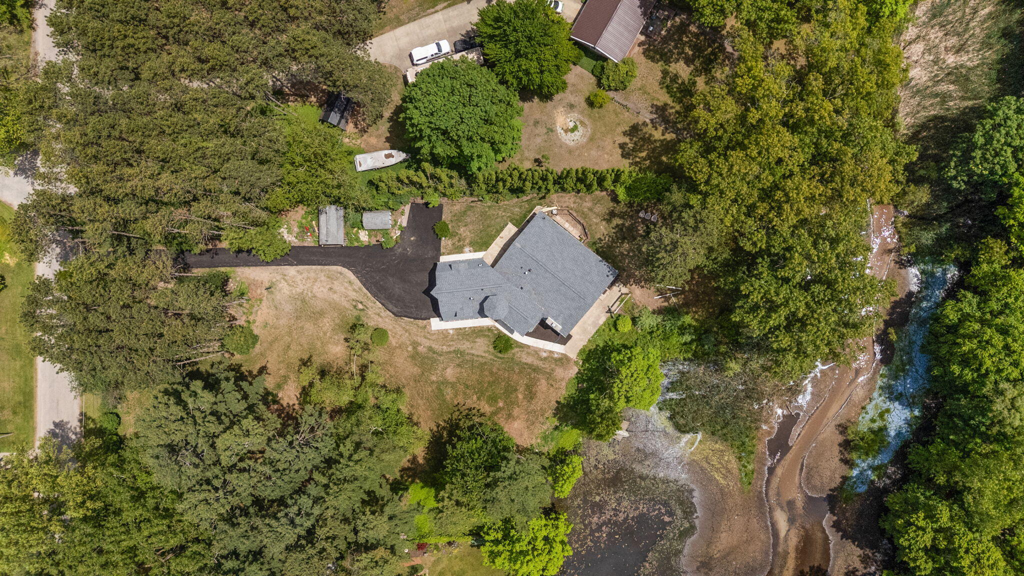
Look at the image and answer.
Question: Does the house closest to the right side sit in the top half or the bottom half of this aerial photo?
top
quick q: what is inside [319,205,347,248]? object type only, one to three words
shed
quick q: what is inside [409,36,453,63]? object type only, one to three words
truck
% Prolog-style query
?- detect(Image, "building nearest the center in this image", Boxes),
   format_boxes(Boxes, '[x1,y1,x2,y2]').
[433,210,619,339]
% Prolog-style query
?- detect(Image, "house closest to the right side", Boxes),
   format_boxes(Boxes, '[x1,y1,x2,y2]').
[570,0,657,64]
